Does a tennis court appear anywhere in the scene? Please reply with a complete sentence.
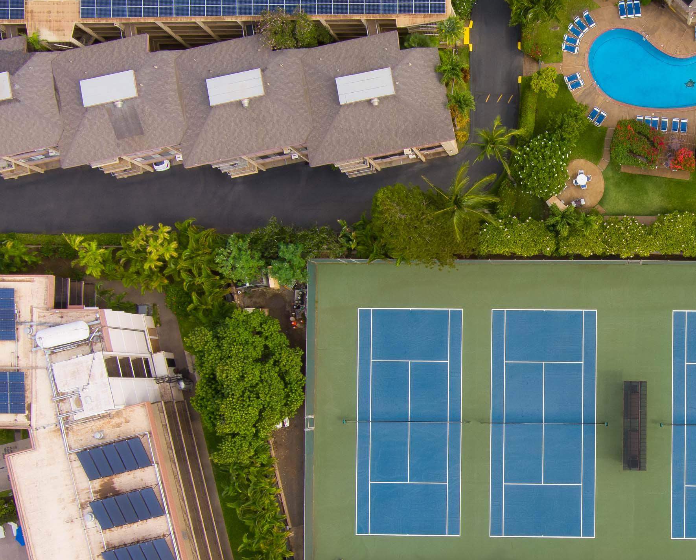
Yes, the picture does show a tennis court.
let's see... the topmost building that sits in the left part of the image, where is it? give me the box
[0,31,458,180]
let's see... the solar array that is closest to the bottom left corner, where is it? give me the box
[0,371,29,414]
